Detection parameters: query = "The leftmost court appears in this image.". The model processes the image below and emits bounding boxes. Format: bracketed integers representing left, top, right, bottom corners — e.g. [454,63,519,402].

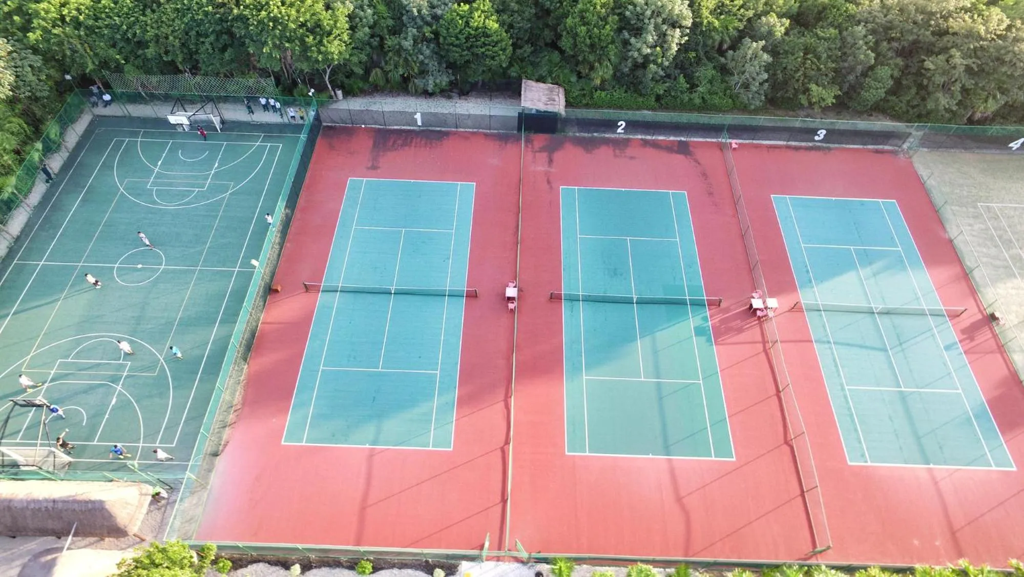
[0,114,310,488]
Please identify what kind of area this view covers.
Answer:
sports ground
